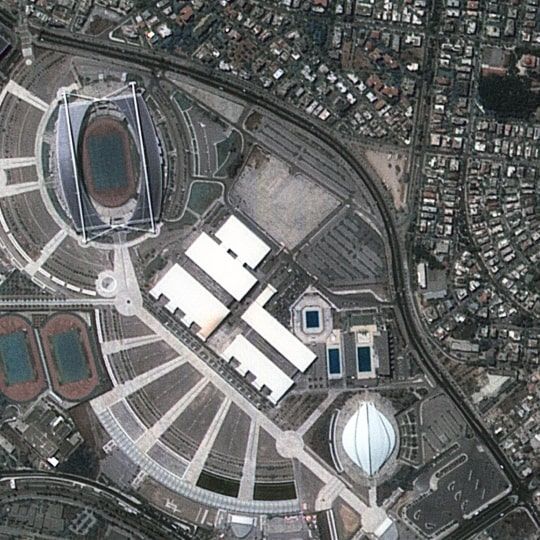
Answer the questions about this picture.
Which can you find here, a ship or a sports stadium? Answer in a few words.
sports stadium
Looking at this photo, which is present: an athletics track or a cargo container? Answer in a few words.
athletics track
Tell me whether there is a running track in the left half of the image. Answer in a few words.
Yes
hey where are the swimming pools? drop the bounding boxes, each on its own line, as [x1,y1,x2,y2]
[358,345,375,378]
[302,306,323,334]
[326,346,342,378]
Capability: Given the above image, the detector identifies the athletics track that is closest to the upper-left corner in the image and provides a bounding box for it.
[81,117,136,209]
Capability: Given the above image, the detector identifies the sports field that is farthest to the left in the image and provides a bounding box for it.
[0,330,35,384]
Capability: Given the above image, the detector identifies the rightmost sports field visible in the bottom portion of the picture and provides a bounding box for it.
[52,330,89,383]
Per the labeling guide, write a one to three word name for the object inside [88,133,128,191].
sports field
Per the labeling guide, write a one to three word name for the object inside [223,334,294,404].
building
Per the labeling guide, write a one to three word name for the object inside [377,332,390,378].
building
